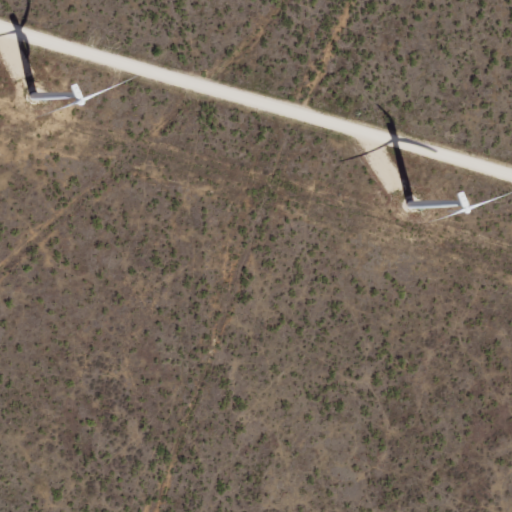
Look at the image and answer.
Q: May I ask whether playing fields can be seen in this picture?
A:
No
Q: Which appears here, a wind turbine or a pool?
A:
wind turbine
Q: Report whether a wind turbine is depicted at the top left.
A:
Yes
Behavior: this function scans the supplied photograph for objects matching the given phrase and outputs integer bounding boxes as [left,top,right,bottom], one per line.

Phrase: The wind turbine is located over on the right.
[405,192,512,224]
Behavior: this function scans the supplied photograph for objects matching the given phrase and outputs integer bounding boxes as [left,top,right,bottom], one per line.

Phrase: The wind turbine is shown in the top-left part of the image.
[26,76,136,118]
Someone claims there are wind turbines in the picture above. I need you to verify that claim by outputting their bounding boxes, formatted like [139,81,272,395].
[405,192,512,224]
[26,76,136,118]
